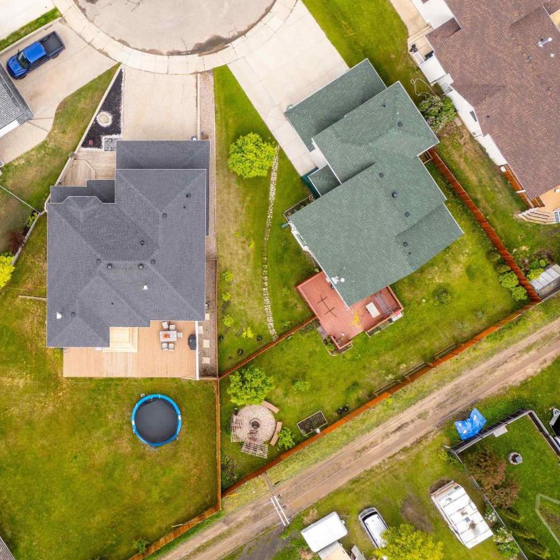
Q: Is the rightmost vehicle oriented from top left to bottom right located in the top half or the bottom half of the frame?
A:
bottom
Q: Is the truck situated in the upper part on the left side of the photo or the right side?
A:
left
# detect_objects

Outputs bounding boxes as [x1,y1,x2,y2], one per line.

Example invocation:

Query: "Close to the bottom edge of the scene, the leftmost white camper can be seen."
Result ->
[296,506,349,551]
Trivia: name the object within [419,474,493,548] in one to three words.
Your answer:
vehicle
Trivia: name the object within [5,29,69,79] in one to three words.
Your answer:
truck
